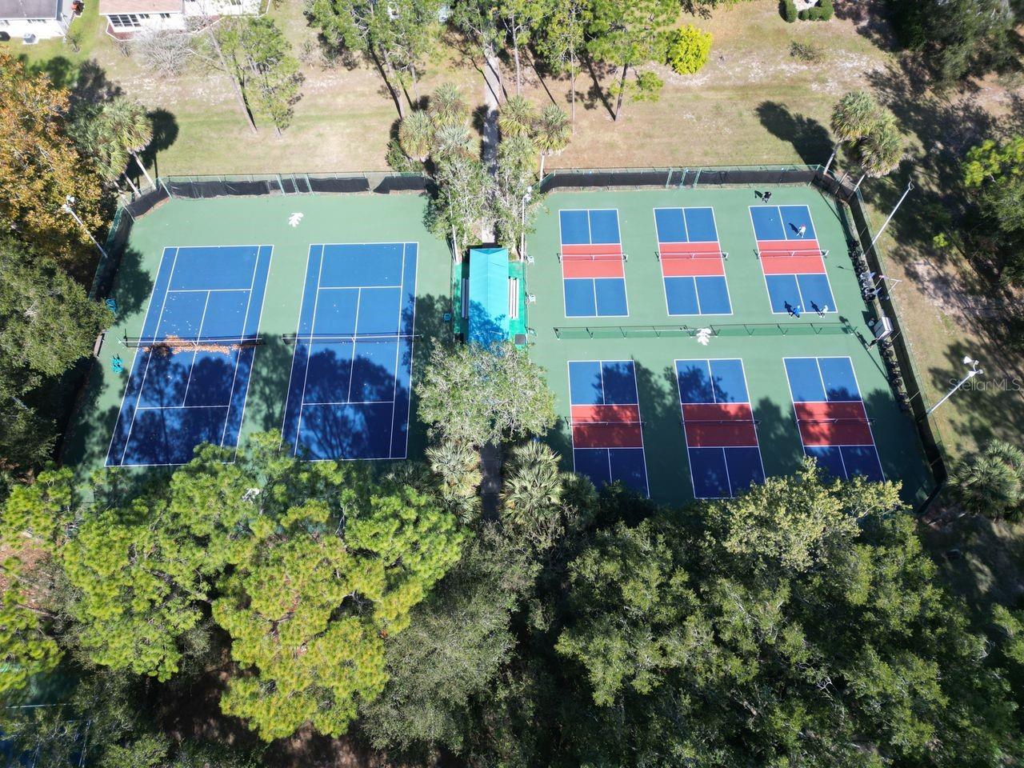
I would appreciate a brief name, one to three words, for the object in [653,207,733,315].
sports court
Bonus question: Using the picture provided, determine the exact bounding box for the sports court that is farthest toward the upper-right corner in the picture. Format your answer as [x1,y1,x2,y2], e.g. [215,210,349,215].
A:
[749,205,837,313]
